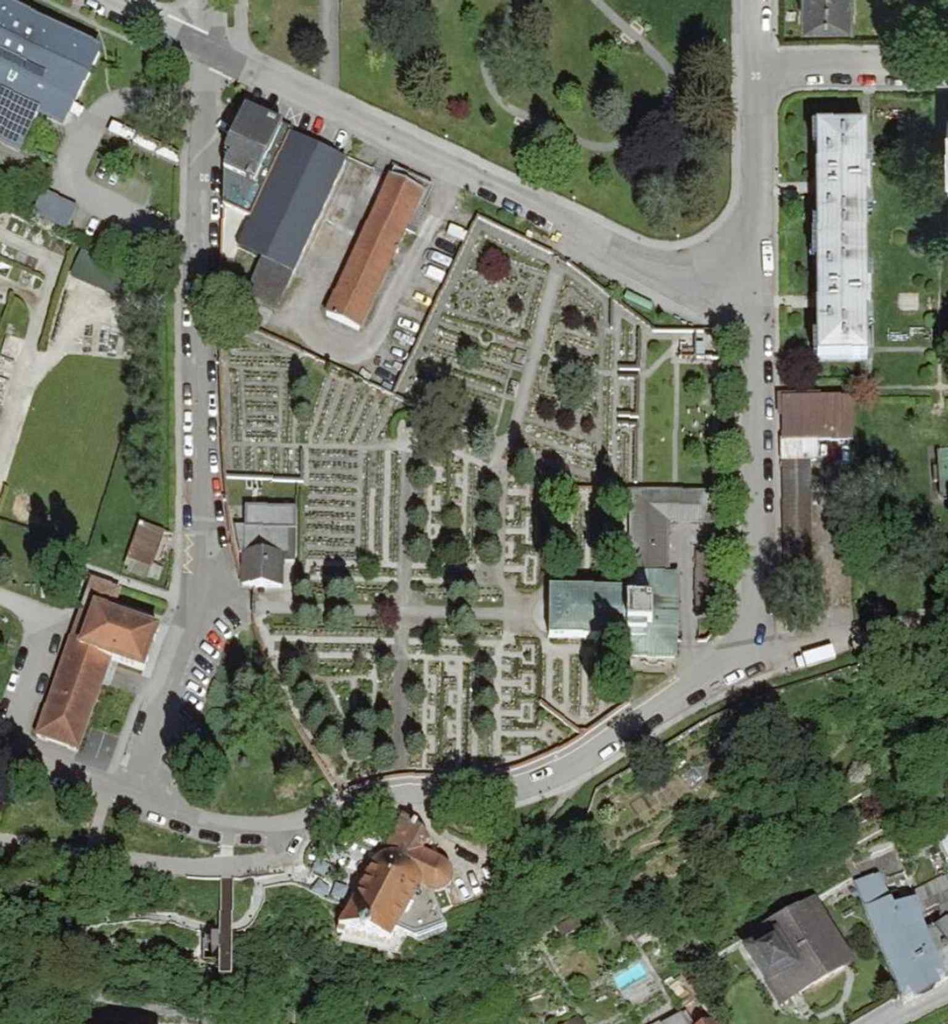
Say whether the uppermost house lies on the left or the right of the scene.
right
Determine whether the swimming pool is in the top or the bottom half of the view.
bottom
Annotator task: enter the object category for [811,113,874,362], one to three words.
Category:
building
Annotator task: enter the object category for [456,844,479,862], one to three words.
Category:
vehicle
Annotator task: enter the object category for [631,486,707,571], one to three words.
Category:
shed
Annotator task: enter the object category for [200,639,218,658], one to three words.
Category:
car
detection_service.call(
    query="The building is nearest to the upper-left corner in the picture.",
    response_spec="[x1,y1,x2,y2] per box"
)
[0,0,101,160]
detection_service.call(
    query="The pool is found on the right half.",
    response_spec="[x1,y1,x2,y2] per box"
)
[612,959,650,992]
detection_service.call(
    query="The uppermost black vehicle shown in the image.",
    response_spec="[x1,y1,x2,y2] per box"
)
[106,10,124,24]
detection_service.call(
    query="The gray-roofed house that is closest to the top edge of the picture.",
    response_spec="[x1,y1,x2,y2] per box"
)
[803,0,853,47]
